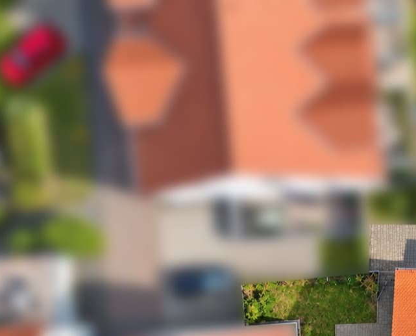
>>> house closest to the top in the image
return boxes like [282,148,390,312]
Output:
[101,0,388,200]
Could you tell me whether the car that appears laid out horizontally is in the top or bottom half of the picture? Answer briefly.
bottom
